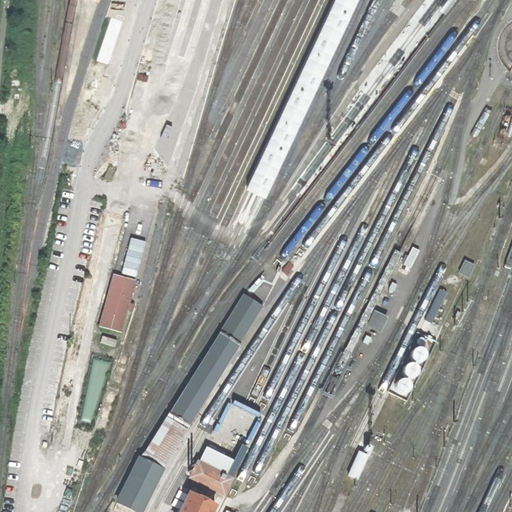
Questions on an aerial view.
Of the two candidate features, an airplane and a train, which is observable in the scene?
train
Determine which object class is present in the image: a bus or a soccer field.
bus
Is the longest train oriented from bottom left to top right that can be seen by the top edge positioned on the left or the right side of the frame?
right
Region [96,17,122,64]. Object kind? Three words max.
shed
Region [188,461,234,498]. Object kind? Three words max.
house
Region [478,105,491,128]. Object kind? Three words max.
rail car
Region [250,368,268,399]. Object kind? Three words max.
vehicle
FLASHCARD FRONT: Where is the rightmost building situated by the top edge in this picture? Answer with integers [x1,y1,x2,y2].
[247,0,360,198]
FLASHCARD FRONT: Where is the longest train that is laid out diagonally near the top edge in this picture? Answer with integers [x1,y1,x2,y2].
[394,24,477,131]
